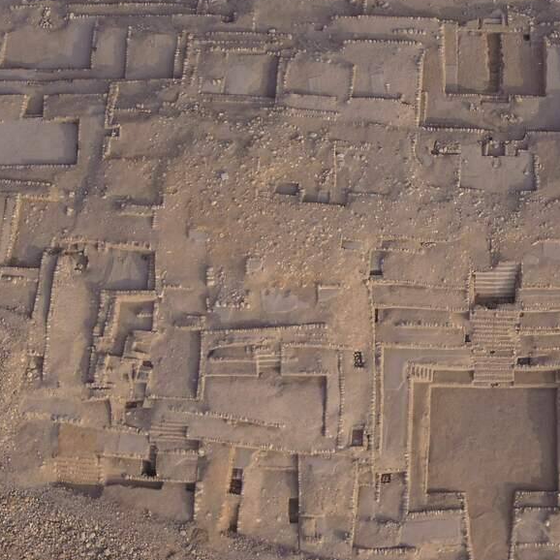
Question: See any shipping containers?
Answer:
No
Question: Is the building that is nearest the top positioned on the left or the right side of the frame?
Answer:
right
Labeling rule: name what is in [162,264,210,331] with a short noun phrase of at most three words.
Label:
house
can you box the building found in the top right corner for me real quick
[416,10,560,135]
